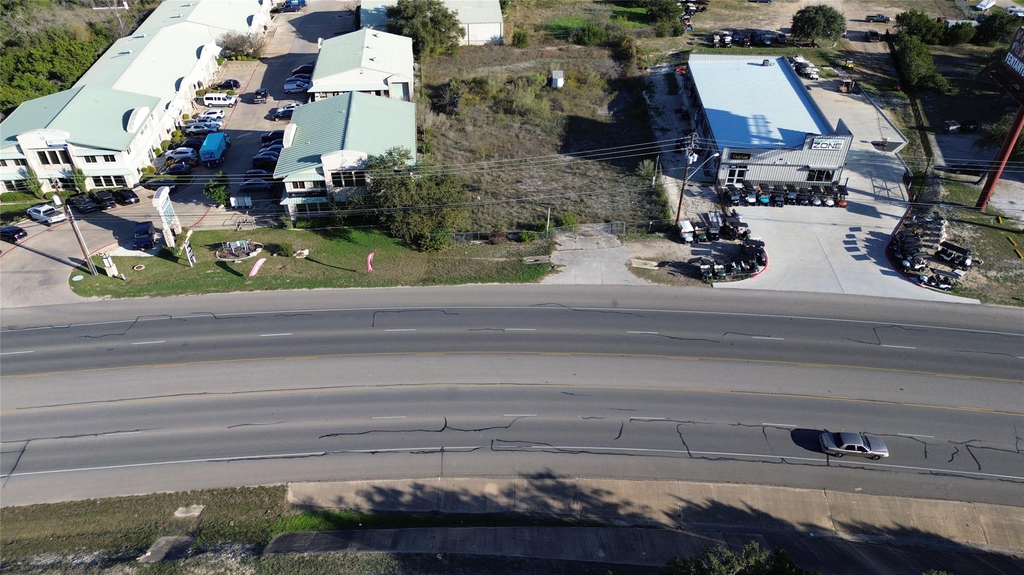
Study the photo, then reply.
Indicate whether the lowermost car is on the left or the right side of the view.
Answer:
right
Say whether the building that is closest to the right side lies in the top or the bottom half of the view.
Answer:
top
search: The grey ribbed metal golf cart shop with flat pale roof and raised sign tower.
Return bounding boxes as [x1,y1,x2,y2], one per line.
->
[690,55,861,191]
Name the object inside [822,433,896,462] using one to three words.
car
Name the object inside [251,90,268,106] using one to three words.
vehicle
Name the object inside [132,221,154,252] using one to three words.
truck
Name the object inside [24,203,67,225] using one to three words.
truck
